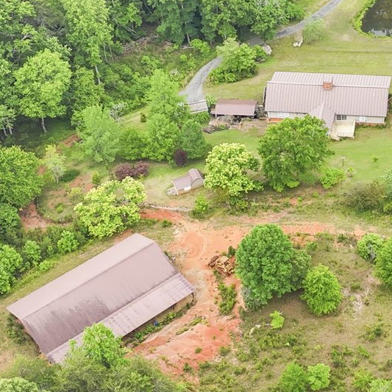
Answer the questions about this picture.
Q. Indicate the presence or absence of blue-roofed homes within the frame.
No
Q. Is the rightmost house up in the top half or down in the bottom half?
top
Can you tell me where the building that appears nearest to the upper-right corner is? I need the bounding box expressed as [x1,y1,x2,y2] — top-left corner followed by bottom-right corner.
[264,71,390,144]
